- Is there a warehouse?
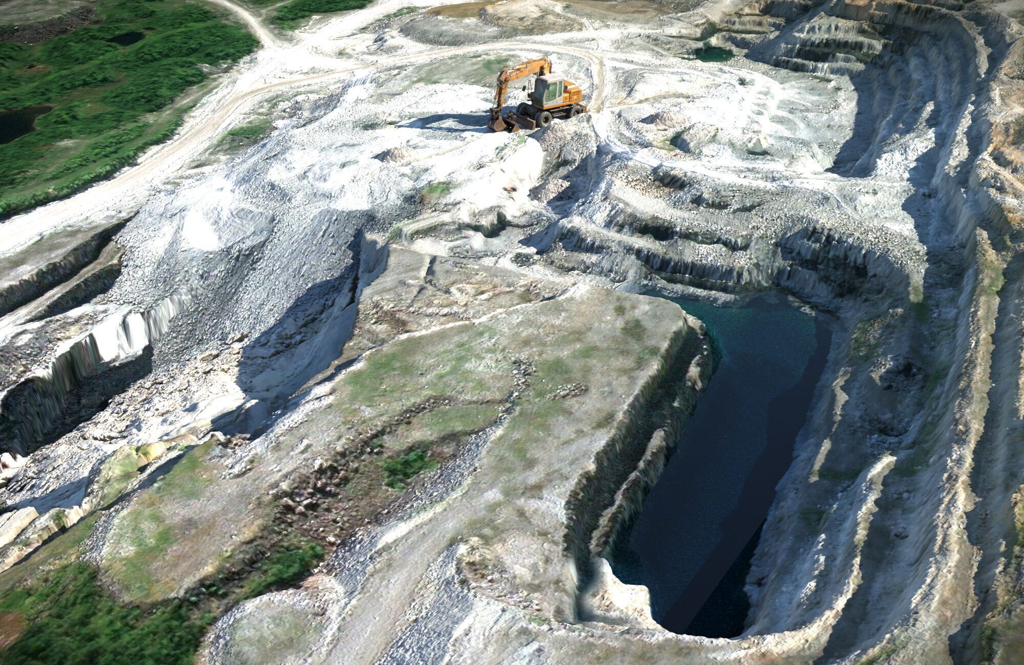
No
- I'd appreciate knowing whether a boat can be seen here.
No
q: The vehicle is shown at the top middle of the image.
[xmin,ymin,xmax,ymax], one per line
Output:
[479,56,591,135]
